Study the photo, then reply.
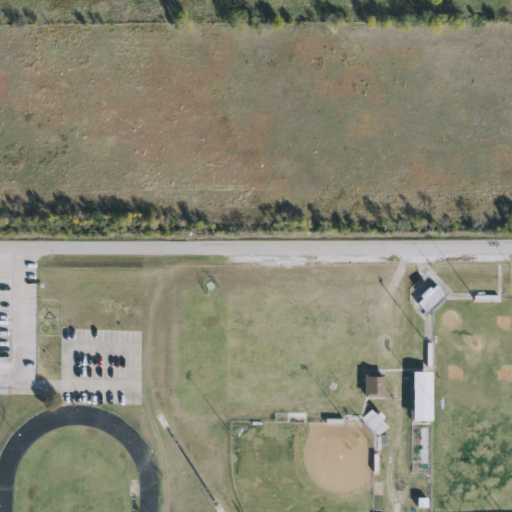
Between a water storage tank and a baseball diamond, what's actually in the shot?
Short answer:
baseball diamond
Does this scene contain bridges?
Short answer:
No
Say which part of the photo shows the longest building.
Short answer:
bottom right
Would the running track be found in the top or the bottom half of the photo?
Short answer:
bottom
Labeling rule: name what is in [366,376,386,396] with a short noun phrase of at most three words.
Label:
house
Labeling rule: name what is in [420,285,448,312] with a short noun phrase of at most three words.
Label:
building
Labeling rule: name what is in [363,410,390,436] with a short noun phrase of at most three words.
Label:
building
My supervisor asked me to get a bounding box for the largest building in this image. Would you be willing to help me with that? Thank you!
[415,372,436,422]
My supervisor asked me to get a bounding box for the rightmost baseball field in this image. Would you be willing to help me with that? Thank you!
[434,303,512,510]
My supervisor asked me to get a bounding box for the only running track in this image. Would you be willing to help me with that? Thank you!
[0,406,160,512]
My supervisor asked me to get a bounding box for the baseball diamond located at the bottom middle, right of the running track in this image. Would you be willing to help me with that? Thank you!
[232,422,374,512]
